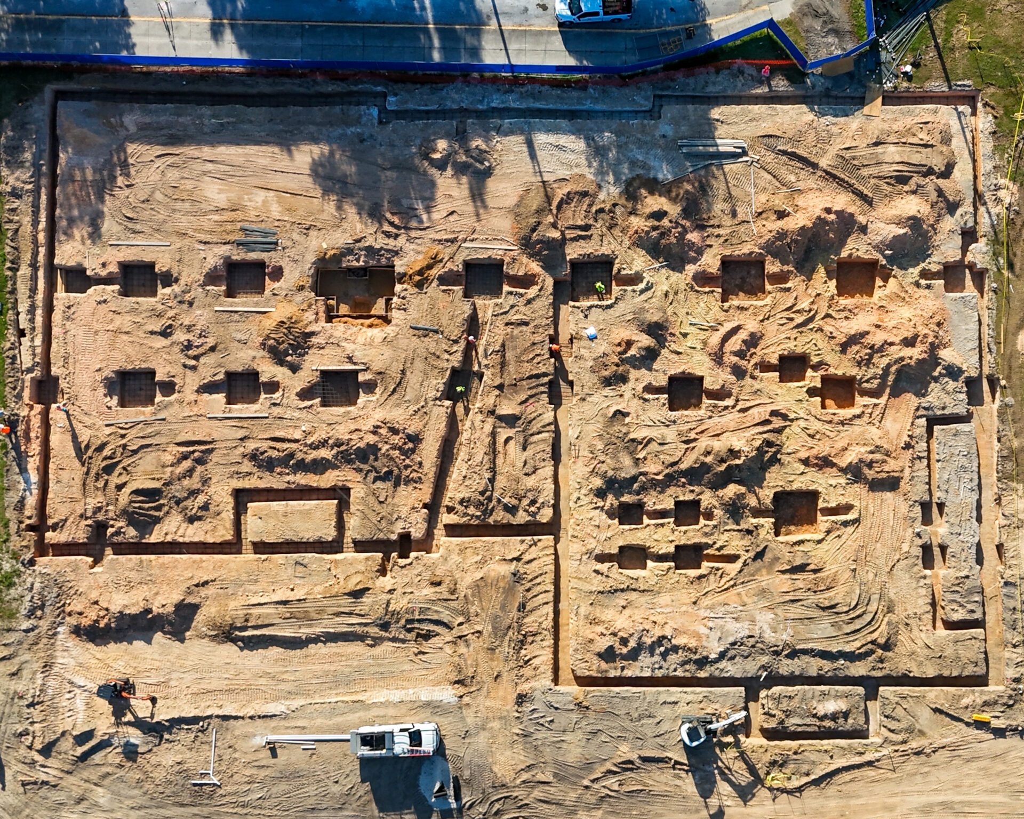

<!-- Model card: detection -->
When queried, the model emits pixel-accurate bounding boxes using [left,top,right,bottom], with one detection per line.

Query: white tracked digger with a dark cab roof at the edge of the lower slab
[681,708,749,746]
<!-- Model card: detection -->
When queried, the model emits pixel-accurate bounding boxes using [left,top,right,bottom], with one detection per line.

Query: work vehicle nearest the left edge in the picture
[95,678,156,706]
